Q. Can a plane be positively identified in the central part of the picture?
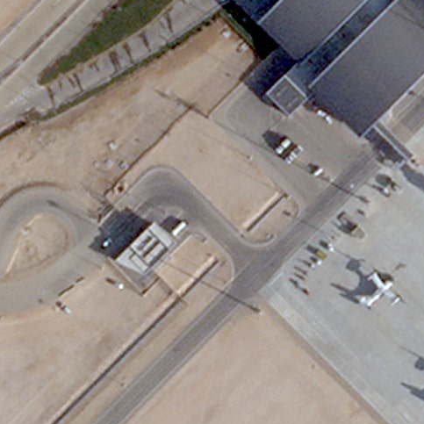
No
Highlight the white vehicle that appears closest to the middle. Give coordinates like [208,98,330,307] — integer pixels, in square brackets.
[171,221,186,236]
